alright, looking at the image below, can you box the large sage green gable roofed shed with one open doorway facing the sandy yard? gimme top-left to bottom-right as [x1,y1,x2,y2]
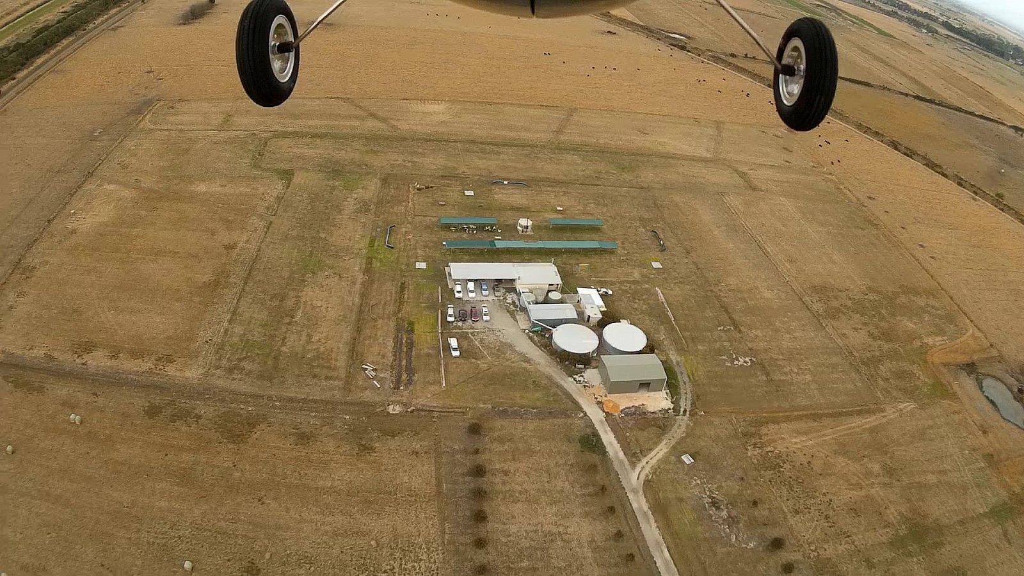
[600,354,667,393]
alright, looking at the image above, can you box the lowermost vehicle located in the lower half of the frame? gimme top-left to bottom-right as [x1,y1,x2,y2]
[448,337,461,359]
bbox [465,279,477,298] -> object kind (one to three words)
vehicle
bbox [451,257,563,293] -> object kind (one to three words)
building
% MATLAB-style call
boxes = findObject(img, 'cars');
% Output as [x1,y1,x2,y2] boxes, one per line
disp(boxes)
[445,304,456,323]
[470,305,480,323]
[448,337,461,359]
[479,281,490,296]
[465,279,477,298]
[458,309,468,323]
[454,283,463,299]
[480,305,491,322]
[598,287,611,297]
